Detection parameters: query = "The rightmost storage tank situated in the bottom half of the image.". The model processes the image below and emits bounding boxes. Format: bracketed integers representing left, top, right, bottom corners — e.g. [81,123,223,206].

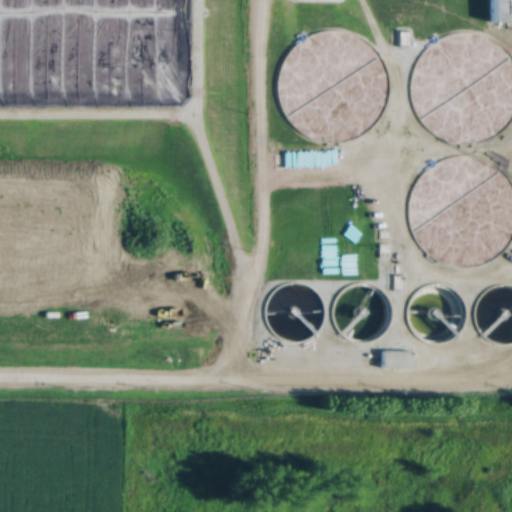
[474,282,512,346]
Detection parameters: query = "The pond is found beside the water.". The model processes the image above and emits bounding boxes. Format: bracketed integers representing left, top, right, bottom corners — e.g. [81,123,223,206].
[0,0,189,105]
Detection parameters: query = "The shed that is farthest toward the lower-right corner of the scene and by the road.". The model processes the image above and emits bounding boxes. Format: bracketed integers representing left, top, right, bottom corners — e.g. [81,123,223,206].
[381,350,416,368]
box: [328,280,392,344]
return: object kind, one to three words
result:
storage tank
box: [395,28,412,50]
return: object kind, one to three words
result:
building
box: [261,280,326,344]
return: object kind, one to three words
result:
storage tank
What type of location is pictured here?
industrial area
